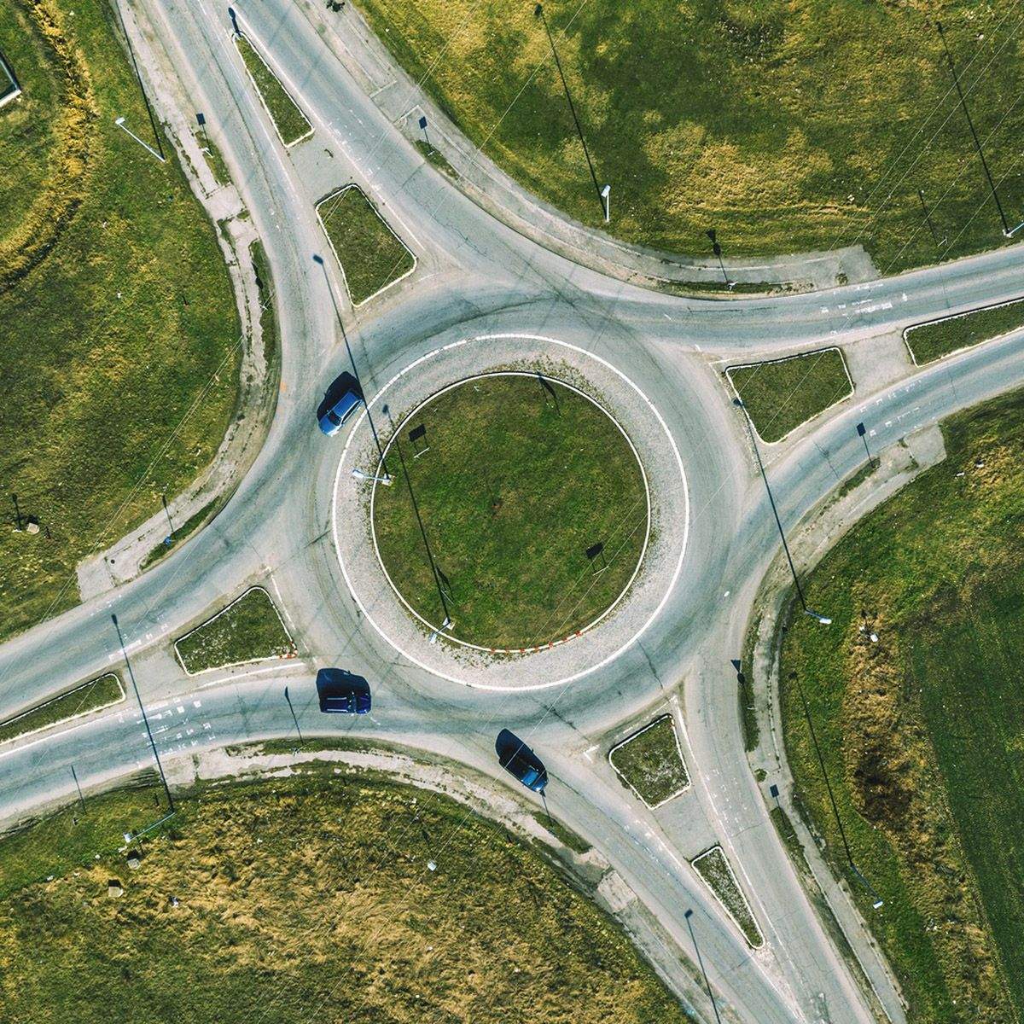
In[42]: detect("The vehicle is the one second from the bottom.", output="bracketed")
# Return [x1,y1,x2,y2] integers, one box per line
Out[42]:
[318,690,372,717]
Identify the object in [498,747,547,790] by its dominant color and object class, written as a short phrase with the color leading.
black car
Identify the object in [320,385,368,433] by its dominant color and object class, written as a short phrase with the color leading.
blue car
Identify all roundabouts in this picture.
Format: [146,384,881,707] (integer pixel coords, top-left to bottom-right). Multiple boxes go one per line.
[251,252,770,772]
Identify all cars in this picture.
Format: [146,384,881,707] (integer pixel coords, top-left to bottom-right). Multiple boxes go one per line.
[498,747,547,790]
[318,690,372,717]
[320,385,368,433]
